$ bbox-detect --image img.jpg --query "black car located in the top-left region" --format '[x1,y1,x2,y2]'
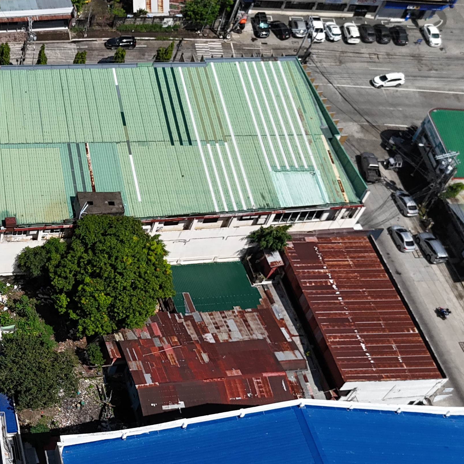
[105,34,138,51]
